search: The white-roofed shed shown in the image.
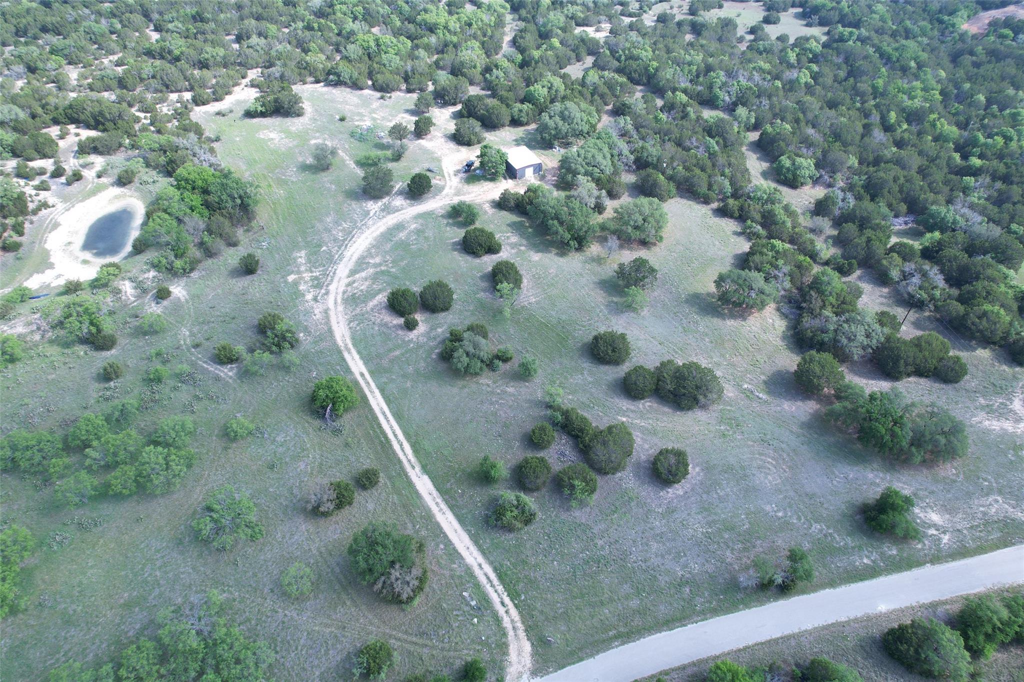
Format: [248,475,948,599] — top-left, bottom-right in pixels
[501,146,542,178]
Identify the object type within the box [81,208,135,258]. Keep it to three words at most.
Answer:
pond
